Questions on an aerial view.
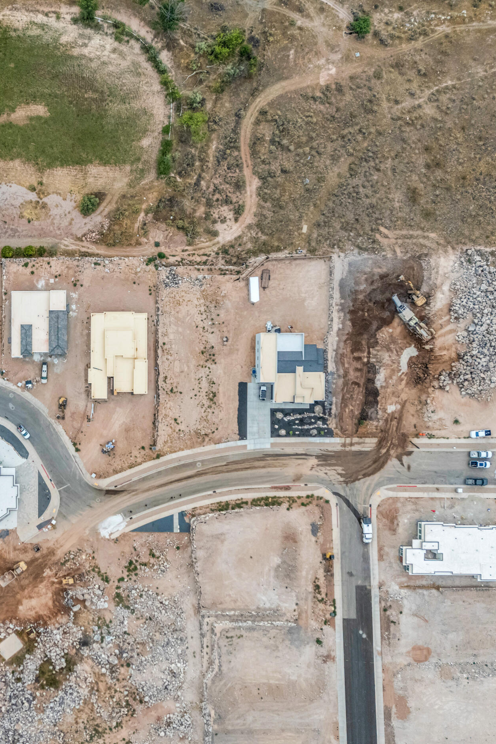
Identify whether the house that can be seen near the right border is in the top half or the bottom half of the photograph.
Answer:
bottom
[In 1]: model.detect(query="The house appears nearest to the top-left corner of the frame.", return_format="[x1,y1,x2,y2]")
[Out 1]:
[12,290,68,359]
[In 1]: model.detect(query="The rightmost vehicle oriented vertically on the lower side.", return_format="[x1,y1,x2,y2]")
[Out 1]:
[360,517,373,544]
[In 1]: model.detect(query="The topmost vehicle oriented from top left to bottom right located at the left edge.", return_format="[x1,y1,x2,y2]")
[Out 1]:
[15,423,33,446]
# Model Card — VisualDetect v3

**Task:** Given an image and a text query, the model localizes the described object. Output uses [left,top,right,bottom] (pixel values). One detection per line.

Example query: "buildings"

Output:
[0,466,20,519]
[399,520,496,580]
[12,290,68,359]
[87,312,148,399]
[254,333,325,404]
